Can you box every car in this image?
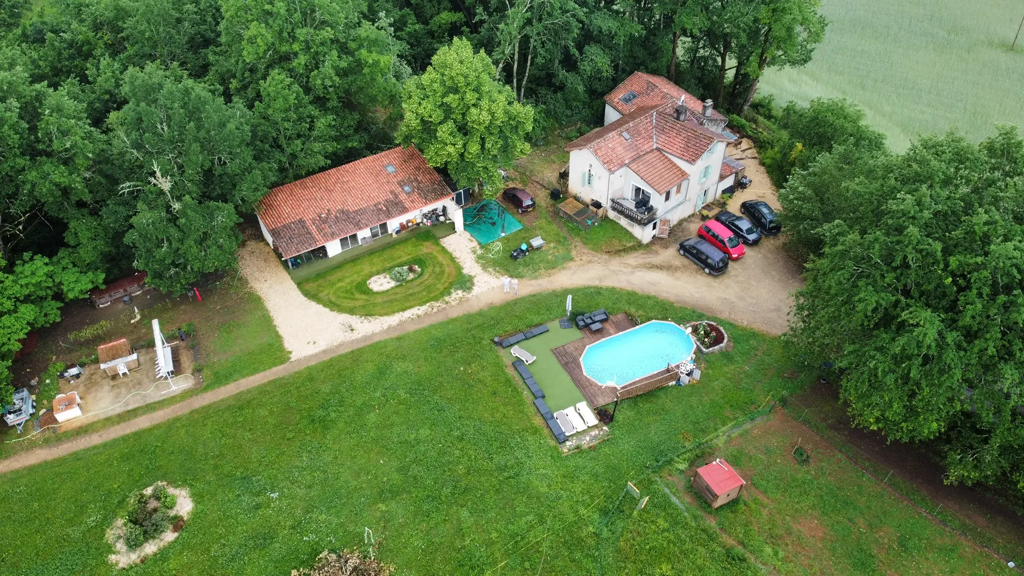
[741,198,788,237]
[696,214,751,261]
[502,183,540,213]
[675,235,733,276]
[713,207,767,247]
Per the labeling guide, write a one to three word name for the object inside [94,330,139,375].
shed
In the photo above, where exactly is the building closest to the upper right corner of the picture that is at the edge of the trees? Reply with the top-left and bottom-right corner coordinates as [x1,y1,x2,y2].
[563,70,744,244]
